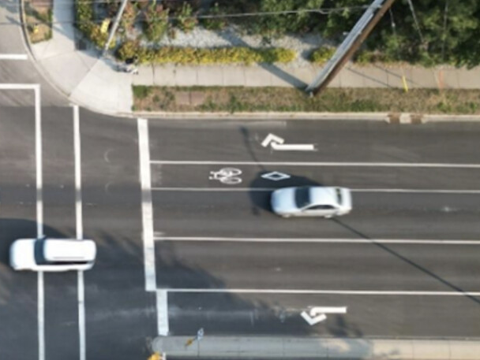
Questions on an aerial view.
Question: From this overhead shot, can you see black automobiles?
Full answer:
No, no black automobile is visible in the view.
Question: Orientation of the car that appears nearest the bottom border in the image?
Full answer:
I'd say the car that appears nearest the bottom border is aligned from left to right in the picture.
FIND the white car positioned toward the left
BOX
[8,232,98,275]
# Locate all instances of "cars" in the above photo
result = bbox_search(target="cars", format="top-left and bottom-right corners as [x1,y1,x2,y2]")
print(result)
[268,180,354,221]
[8,232,98,275]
